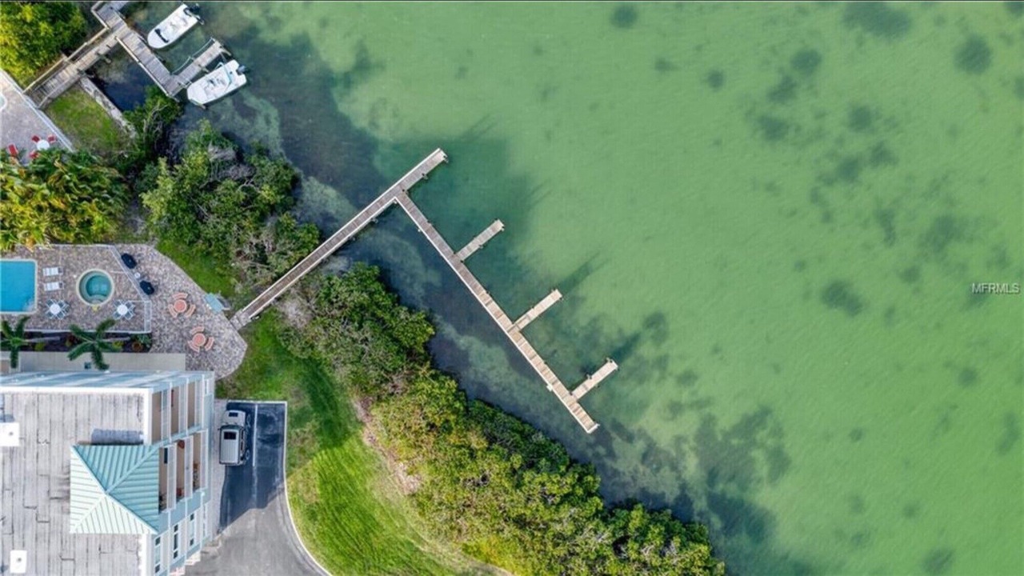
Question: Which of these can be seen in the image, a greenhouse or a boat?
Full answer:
The image shows a boat.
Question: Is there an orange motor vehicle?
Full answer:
No, there's no orange motor vehicle here.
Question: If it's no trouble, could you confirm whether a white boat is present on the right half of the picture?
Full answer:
No, looking on the right half of the picture, there is no white boat.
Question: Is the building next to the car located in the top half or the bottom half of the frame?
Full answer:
The bottom half of the photo is where the building next to the car is.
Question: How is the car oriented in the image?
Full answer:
In this picture, the car lies up and down.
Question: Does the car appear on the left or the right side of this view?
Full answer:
The car appears in the left half of the scene.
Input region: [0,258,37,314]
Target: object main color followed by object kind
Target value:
blue swimming pool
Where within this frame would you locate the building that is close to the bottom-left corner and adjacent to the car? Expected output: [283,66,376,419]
[0,371,219,576]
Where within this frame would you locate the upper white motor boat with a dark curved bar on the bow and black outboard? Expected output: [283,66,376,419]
[145,1,200,45]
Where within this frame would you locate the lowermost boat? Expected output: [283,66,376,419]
[186,59,249,105]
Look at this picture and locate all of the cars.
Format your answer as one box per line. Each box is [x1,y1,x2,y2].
[220,413,248,469]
